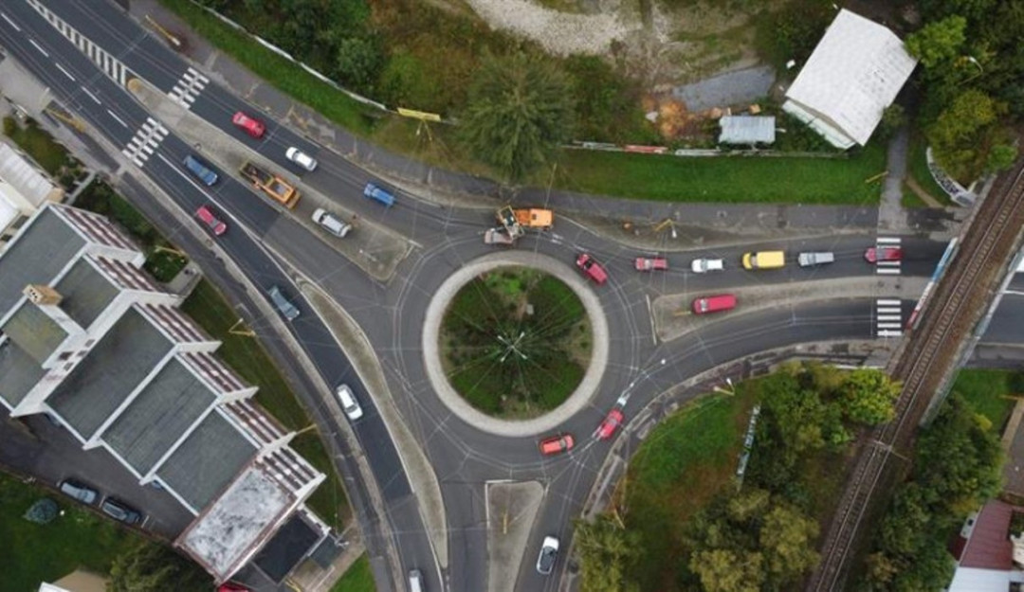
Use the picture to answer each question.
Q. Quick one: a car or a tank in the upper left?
car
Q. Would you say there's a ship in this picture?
No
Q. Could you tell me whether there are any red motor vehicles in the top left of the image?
Yes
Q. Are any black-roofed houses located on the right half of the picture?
No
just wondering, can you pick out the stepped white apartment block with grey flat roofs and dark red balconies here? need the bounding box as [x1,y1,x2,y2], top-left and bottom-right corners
[0,200,351,588]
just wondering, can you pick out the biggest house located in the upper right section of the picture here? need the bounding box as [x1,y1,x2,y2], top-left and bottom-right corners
[775,8,918,152]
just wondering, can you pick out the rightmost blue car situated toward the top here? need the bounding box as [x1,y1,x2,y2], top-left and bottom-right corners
[364,184,396,206]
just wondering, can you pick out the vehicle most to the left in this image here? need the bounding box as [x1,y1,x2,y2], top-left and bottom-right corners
[58,479,100,503]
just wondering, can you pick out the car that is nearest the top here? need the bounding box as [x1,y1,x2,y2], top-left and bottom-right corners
[233,113,266,139]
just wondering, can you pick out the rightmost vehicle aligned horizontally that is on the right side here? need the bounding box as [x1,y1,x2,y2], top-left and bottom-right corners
[863,246,902,263]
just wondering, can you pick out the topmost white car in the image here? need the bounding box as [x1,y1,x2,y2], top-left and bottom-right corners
[286,146,319,172]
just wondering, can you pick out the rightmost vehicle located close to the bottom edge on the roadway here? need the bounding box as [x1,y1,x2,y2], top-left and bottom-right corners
[536,536,558,577]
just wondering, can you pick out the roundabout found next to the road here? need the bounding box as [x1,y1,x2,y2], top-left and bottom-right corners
[424,251,607,435]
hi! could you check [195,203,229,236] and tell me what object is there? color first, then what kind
red car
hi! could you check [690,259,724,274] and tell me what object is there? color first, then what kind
white car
